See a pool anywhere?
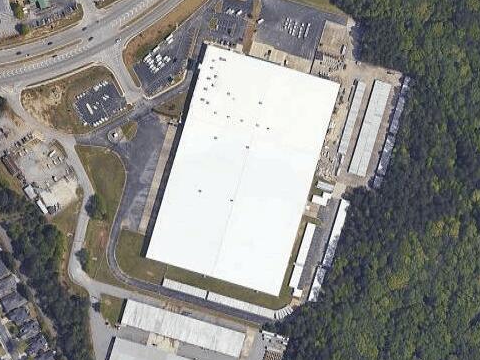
No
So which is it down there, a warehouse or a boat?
warehouse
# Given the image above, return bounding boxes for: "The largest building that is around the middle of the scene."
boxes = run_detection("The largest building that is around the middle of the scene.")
[146,44,340,297]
